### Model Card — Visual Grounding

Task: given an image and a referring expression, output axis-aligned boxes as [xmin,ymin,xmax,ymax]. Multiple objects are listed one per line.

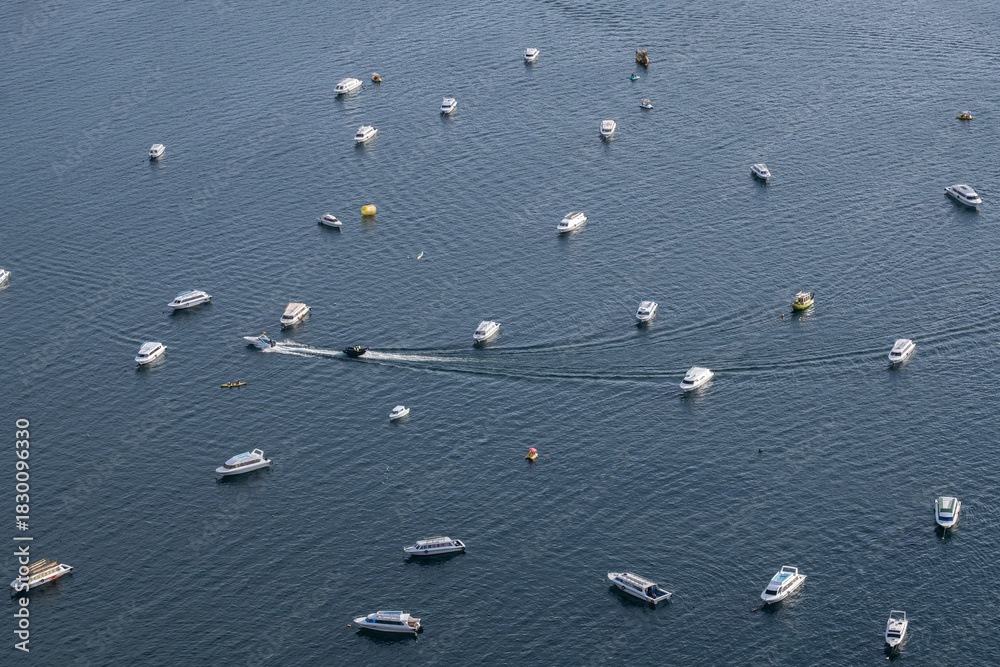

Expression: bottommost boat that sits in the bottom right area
[885,611,907,662]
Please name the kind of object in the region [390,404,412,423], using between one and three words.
boat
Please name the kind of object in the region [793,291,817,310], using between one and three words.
boat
